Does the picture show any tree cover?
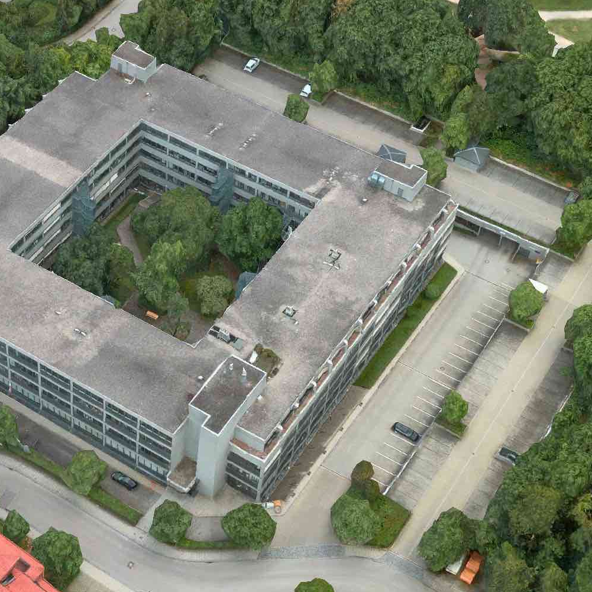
Yes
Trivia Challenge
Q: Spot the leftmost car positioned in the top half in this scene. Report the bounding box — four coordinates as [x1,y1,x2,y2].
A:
[243,59,261,74]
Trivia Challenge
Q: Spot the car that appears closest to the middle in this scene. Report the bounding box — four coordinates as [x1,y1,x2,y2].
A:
[392,425,419,443]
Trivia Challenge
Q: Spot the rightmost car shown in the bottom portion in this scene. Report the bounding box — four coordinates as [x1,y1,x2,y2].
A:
[499,446,523,465]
